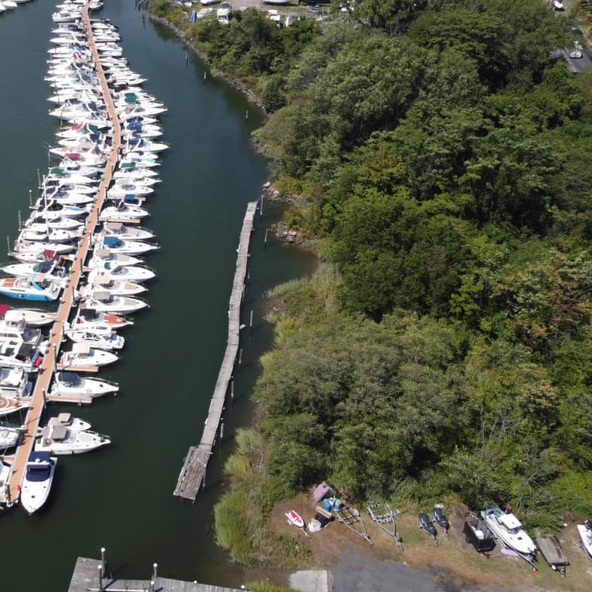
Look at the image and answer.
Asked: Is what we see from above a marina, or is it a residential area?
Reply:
marina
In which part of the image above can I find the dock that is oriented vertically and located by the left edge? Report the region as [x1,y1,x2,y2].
[0,0,144,504]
